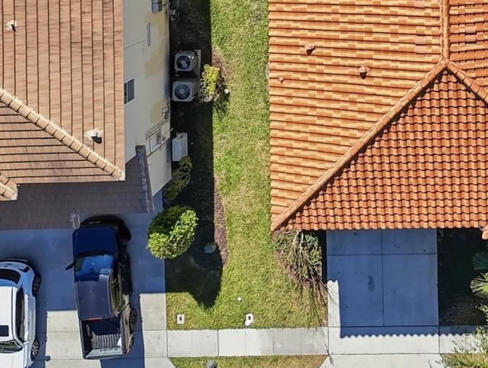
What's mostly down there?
buildings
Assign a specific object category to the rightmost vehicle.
truck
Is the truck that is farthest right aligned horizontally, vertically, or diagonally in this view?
vertically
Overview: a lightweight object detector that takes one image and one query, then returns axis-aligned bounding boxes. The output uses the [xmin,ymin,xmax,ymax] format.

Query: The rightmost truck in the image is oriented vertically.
[73,214,139,361]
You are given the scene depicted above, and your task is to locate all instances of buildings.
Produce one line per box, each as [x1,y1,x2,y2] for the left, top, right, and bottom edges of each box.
[0,0,172,216]
[266,0,488,247]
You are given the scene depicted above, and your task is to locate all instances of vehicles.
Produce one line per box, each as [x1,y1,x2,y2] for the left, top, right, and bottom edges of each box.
[73,214,139,361]
[0,257,39,368]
